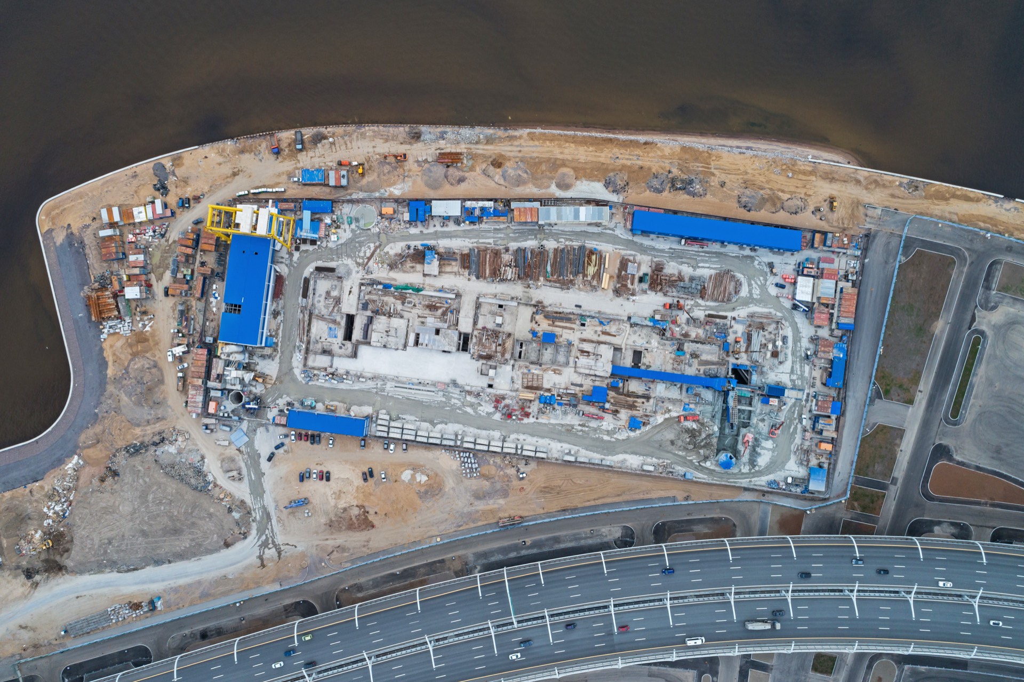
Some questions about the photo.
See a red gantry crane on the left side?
No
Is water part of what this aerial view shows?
Yes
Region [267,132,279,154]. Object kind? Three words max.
vehicle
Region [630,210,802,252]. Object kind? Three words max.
shed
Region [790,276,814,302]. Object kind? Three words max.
shed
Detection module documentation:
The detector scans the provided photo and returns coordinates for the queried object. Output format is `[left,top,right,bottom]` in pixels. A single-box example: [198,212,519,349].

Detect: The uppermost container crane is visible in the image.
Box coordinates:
[203,204,295,250]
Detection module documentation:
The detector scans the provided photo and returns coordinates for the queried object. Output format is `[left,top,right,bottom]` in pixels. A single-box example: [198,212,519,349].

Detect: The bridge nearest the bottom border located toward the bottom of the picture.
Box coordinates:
[84,533,1024,682]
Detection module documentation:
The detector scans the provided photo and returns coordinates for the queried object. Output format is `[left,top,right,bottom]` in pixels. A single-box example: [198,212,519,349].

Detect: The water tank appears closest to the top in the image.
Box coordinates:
[353,204,378,229]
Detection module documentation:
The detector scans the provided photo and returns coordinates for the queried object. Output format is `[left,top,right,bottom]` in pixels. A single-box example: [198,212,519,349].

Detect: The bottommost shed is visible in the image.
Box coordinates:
[805,466,827,491]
